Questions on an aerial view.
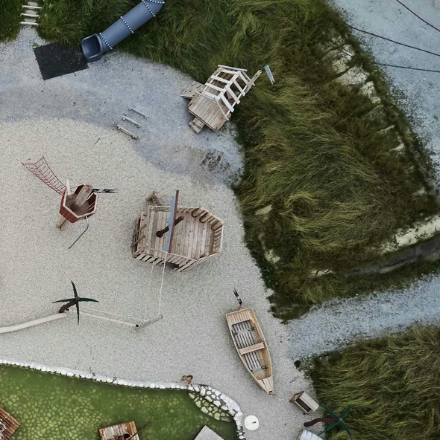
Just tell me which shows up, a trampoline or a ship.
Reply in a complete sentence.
Looking from above, you can make out a ship.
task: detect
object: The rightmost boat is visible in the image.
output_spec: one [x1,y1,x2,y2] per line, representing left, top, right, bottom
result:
[221,291,275,395]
